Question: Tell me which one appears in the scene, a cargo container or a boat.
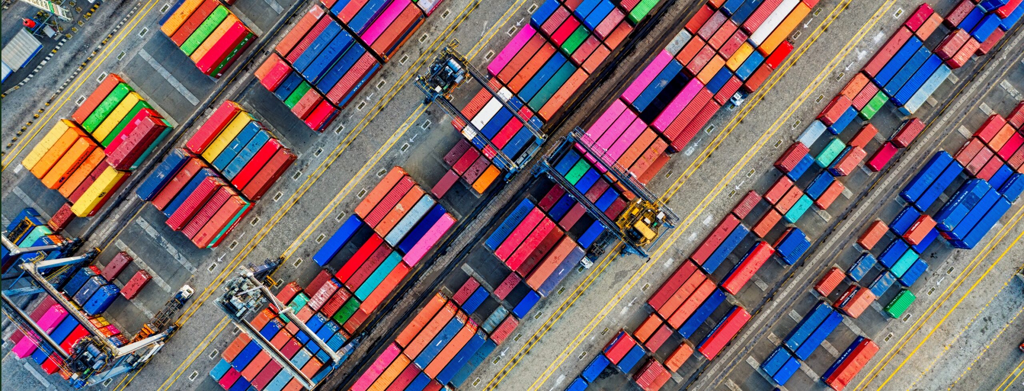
cargo container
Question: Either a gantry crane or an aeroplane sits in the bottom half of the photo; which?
gantry crane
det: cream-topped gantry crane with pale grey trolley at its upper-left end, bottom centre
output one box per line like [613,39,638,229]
[204,246,380,391]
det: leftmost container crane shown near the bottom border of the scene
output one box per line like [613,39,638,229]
[0,235,191,391]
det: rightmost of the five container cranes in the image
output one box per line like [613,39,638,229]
[530,121,681,259]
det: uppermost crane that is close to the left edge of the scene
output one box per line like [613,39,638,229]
[0,228,101,286]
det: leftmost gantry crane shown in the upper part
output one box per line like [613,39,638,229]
[409,33,554,184]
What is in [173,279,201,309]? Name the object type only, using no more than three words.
vehicle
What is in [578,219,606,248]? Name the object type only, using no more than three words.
shipping container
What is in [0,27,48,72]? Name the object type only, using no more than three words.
shed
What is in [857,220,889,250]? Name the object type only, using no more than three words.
shipping container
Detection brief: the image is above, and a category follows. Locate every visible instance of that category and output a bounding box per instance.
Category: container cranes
[409,33,554,184]
[0,235,191,391]
[530,121,681,259]
[204,246,380,391]
[0,228,101,286]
